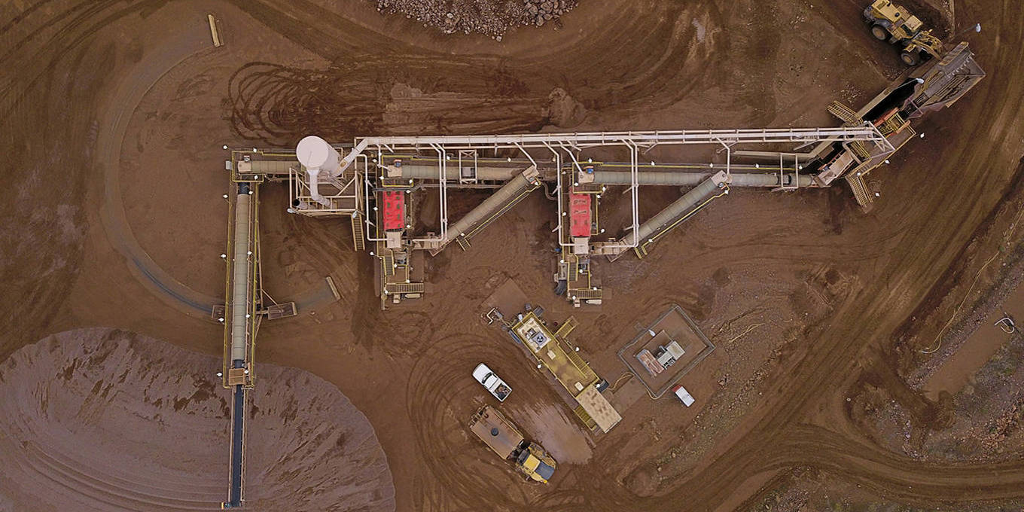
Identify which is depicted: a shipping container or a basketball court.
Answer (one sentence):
The one in the frame is a shipping container.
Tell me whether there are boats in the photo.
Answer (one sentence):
No, no boat is visible in the view.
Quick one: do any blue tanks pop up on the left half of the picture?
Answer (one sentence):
No, no blue tank appears on the left half of the picture.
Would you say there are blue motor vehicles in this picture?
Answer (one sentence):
No, no blue motor vehicle can be seen from above.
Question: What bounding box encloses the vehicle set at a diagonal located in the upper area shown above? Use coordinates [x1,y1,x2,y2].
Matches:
[862,0,974,75]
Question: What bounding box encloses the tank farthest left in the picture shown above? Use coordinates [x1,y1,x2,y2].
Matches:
[288,136,367,250]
